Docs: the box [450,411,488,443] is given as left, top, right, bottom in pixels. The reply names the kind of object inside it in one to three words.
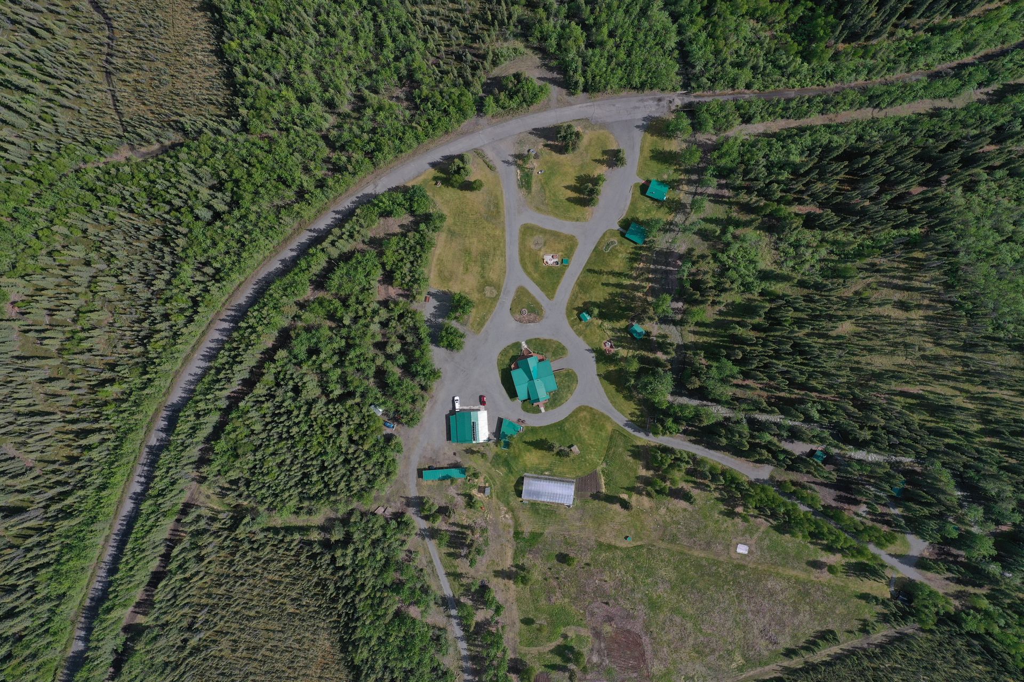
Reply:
building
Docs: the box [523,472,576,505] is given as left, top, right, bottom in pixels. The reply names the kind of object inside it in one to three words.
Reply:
greenhouse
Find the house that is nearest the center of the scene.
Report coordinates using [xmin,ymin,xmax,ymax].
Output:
[511,348,558,408]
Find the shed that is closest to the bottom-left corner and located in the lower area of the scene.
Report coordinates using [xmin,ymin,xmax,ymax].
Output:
[422,466,466,481]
